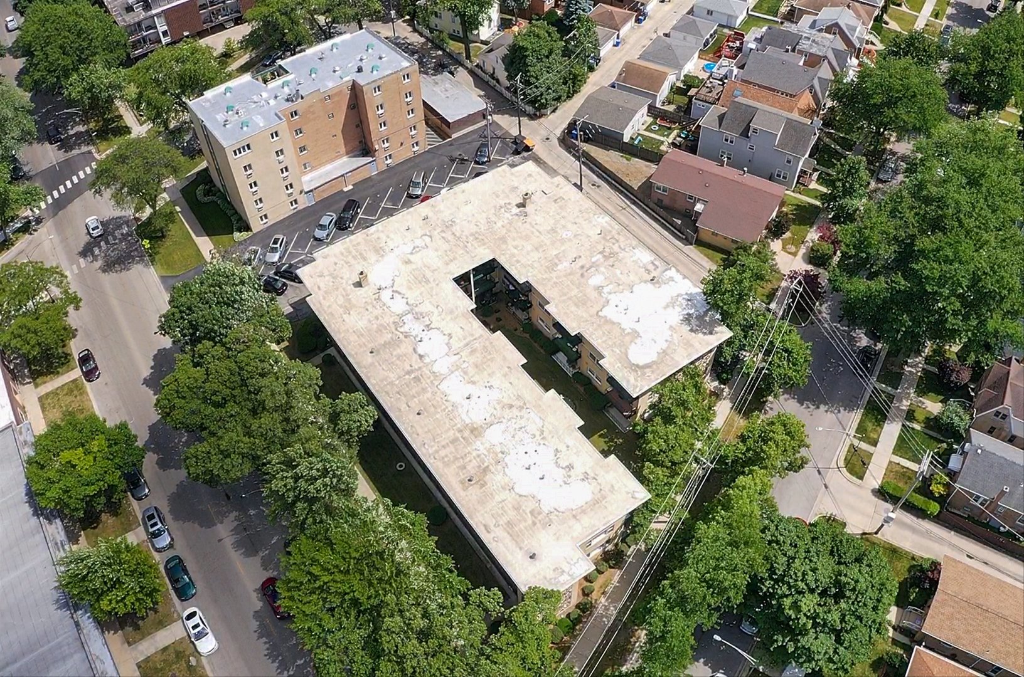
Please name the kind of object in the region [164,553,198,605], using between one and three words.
car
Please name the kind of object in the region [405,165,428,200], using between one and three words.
vehicle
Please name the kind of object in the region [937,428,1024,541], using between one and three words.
house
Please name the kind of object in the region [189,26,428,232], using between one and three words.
building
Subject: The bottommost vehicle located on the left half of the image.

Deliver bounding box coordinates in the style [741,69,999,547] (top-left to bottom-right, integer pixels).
[181,605,219,661]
